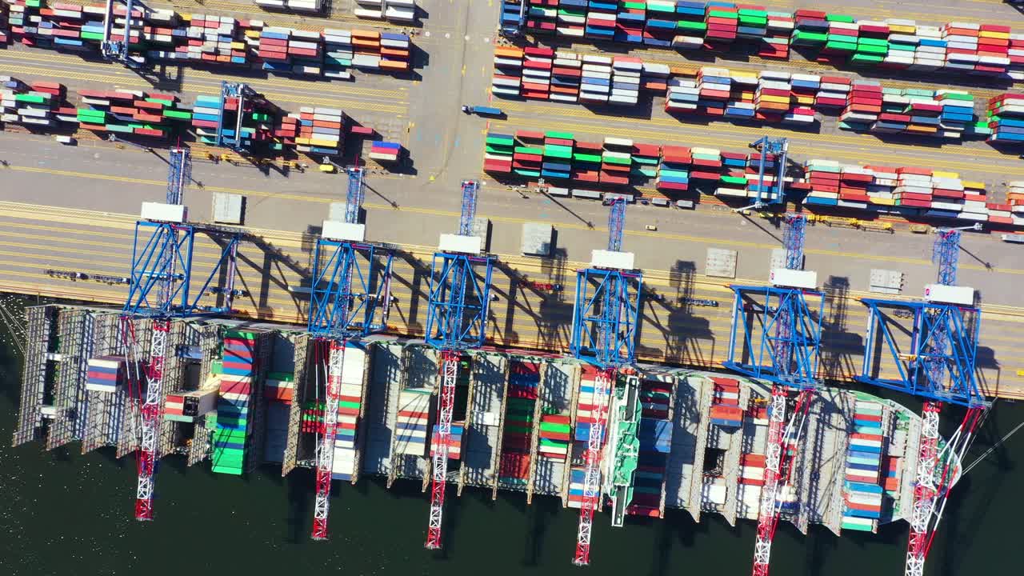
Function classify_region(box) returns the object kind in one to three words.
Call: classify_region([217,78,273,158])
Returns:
crane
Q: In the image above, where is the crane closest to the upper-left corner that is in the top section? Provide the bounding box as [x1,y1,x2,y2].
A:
[101,0,161,79]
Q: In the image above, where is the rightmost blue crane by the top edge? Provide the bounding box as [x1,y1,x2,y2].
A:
[495,0,528,45]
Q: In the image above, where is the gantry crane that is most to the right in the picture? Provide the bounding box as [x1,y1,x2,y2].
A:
[842,229,992,576]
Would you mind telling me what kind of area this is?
port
